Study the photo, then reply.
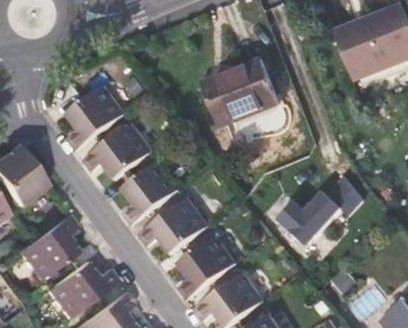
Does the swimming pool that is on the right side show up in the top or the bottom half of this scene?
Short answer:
bottom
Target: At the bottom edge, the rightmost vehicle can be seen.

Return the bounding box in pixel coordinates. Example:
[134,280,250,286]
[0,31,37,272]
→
[184,308,201,328]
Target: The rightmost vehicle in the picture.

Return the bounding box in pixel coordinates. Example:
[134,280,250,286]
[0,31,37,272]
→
[256,26,270,42]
